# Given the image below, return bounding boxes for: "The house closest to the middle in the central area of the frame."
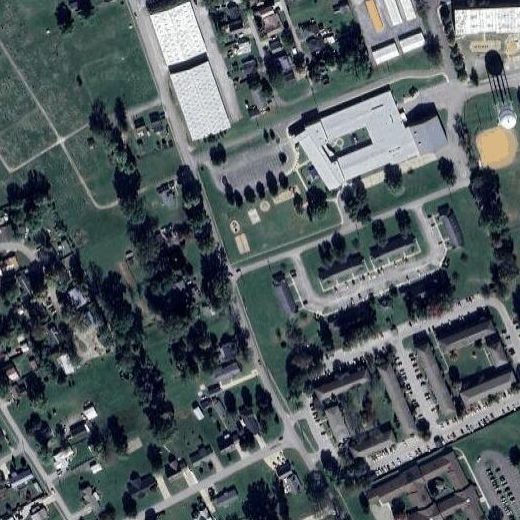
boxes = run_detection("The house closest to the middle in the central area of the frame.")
[273,278,297,312]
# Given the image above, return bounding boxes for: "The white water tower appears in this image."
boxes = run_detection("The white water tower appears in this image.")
[495,97,520,128]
